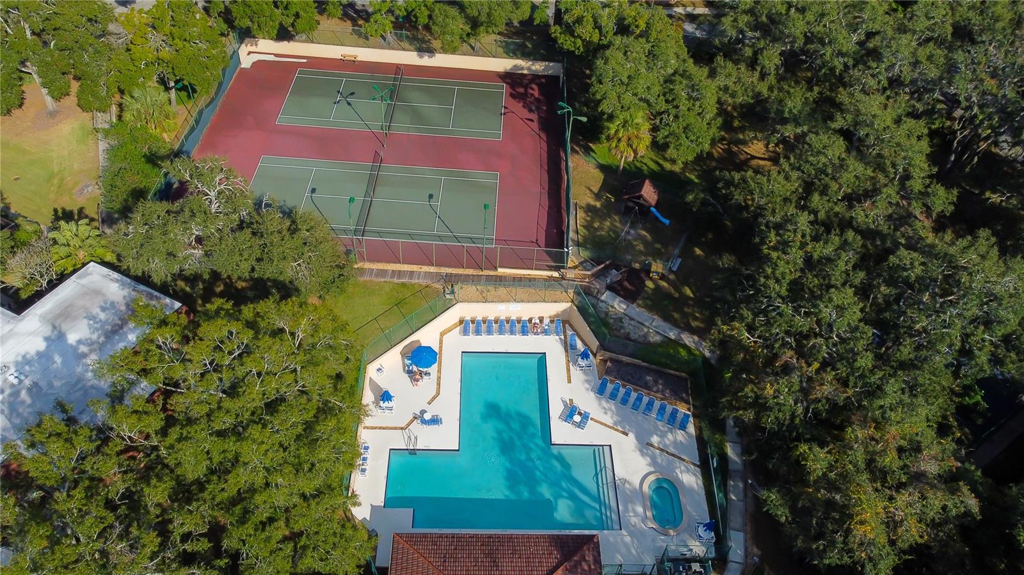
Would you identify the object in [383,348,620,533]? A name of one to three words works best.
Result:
swimming pool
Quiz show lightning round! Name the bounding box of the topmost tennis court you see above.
[276,69,505,139]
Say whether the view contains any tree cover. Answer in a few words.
Yes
